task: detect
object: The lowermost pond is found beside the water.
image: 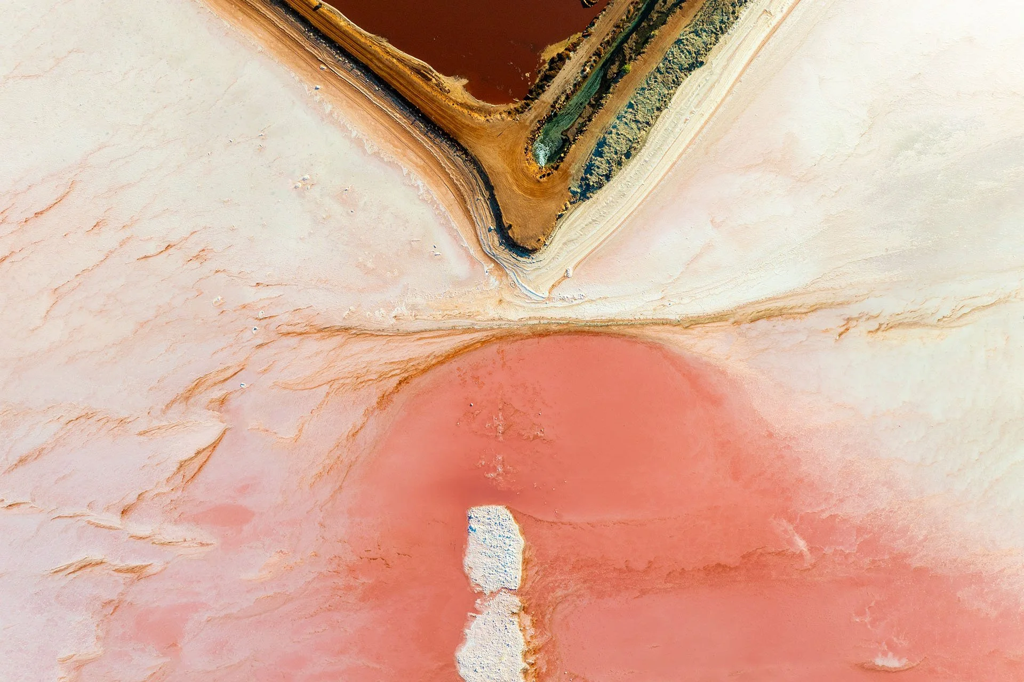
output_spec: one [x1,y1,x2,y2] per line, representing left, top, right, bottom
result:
[203,335,1024,682]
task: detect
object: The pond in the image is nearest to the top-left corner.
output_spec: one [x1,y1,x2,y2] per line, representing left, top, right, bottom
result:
[323,0,610,104]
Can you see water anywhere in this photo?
Yes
